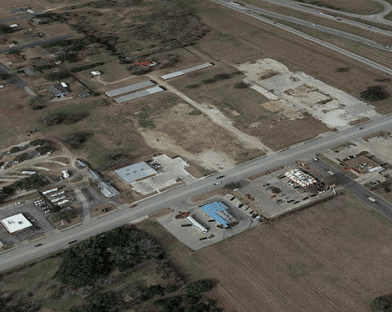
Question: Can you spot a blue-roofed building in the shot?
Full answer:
Yes, there's a blue-roofed building here.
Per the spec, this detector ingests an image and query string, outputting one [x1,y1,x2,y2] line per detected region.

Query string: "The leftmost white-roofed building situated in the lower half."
[3,212,34,237]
